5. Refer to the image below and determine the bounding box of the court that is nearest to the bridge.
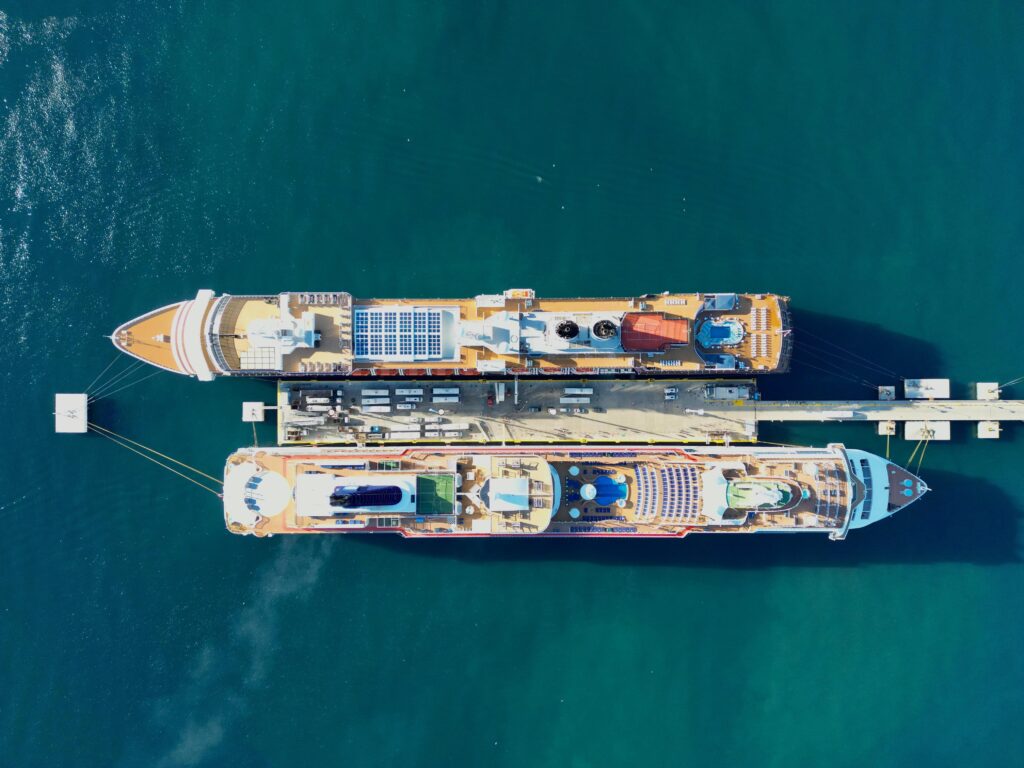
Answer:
[622,312,689,352]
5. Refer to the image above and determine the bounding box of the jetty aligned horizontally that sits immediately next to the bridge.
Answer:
[277,378,759,445]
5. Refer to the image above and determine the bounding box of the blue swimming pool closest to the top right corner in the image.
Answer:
[697,319,745,348]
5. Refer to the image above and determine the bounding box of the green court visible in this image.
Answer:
[416,473,455,515]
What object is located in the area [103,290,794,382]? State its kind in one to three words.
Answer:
ship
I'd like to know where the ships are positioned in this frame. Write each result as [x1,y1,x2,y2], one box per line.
[219,442,933,540]
[103,290,794,382]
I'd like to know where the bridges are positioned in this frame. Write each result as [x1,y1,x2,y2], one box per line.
[757,400,1024,423]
